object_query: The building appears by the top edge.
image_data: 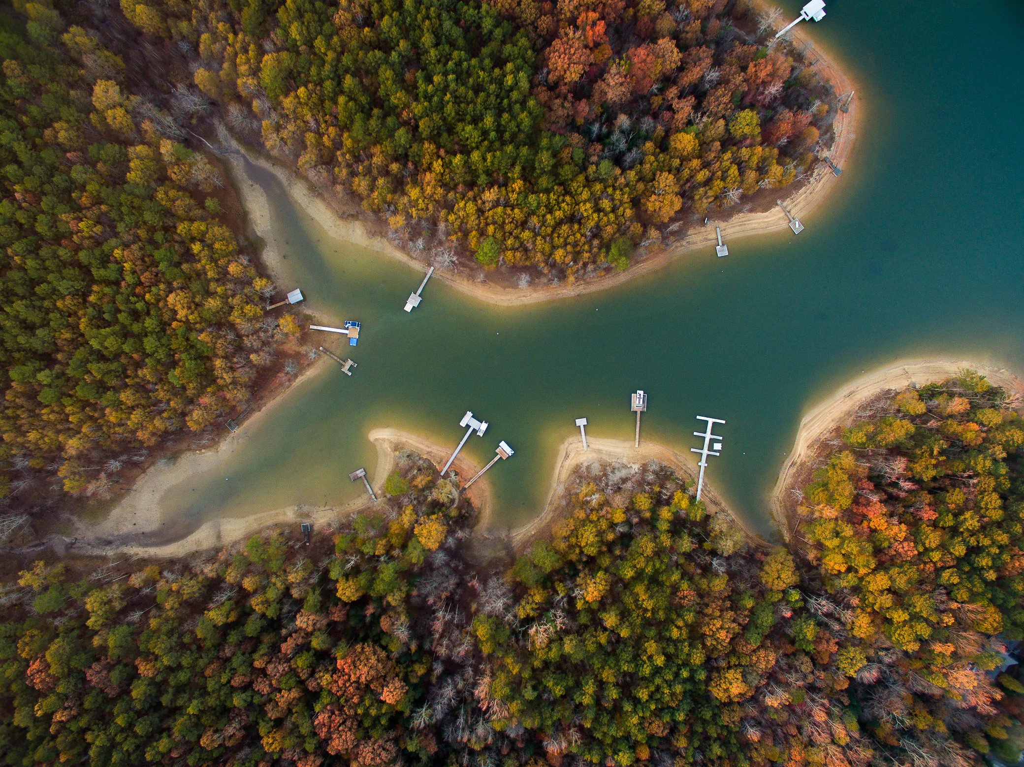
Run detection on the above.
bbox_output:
[775,0,827,38]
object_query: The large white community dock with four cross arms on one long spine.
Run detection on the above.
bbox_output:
[690,416,725,504]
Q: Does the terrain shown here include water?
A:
Yes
